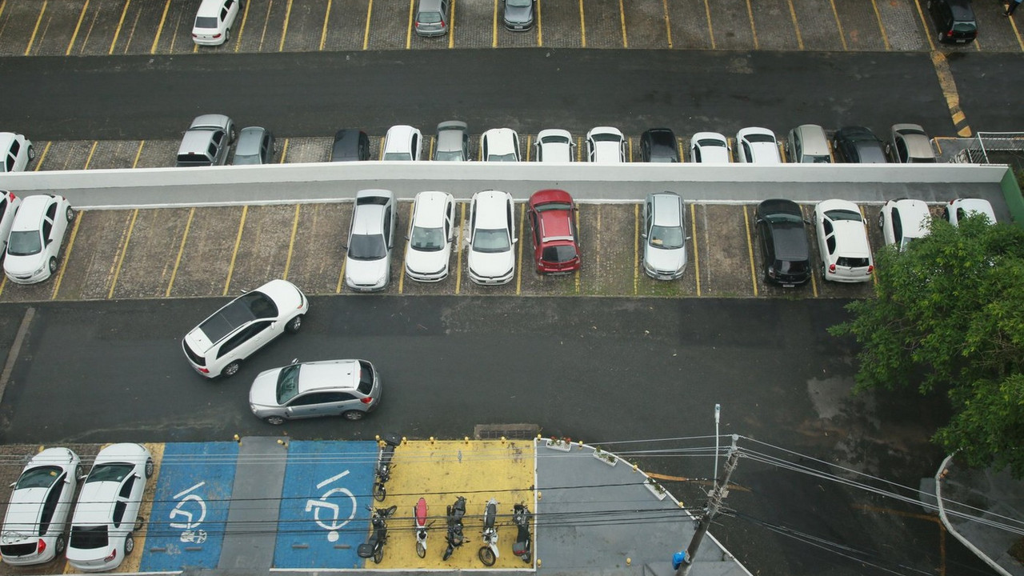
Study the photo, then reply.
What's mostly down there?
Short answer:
paved ground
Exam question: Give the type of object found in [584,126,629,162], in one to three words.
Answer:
car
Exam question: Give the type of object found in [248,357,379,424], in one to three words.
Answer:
car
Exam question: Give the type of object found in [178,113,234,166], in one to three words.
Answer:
vehicle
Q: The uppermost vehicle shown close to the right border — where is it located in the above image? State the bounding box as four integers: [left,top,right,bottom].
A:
[926,0,979,42]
